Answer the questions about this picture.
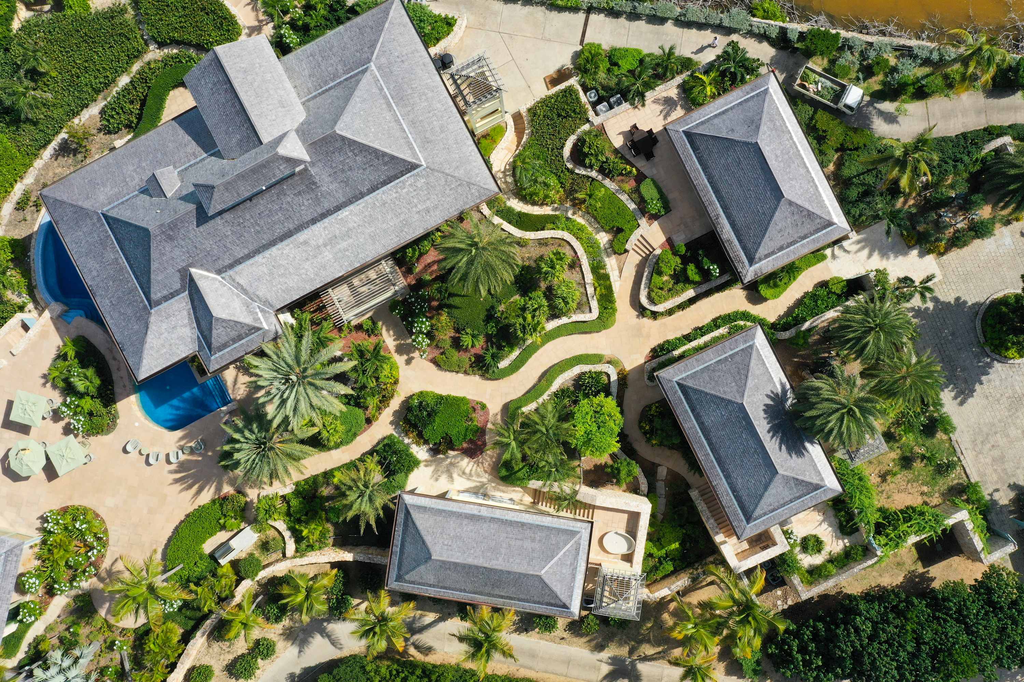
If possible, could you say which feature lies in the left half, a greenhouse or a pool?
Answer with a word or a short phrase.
pool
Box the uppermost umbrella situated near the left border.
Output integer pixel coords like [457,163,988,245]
[10,390,52,428]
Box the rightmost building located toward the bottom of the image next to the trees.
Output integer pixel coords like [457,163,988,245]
[652,321,847,543]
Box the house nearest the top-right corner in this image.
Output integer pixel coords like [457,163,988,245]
[663,71,854,287]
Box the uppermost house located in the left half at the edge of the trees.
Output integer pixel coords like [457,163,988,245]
[38,0,504,387]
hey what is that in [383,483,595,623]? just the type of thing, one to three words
house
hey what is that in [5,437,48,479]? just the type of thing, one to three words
umbrella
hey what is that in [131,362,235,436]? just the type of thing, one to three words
swimming pool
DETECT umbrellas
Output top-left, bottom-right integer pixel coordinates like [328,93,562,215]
[10,390,52,428]
[5,437,48,479]
[43,434,88,478]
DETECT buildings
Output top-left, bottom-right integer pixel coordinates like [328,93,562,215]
[0,532,53,647]
[663,71,854,287]
[652,321,847,543]
[383,483,595,623]
[38,0,504,387]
